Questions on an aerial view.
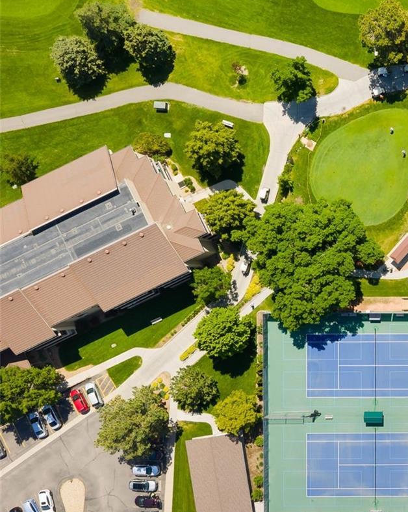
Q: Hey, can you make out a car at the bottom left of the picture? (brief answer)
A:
Yes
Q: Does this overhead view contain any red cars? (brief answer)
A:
Yes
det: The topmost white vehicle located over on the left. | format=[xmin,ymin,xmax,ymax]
[86,381,106,405]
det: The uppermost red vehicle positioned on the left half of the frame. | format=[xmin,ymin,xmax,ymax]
[72,388,91,415]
